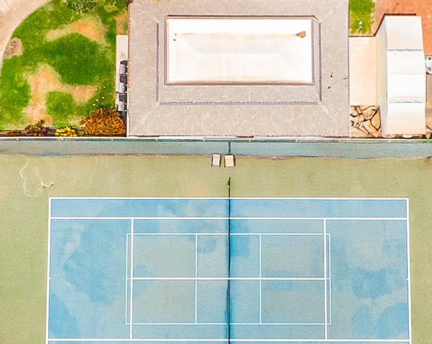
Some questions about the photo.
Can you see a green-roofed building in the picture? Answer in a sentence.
No, no green-roofed building is visible in the scene.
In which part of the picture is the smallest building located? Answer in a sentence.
The smallest building appears toward the top right of the photo.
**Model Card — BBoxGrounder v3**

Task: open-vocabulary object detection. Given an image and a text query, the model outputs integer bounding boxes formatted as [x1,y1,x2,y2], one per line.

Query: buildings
[371,15,425,142]
[126,0,352,138]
